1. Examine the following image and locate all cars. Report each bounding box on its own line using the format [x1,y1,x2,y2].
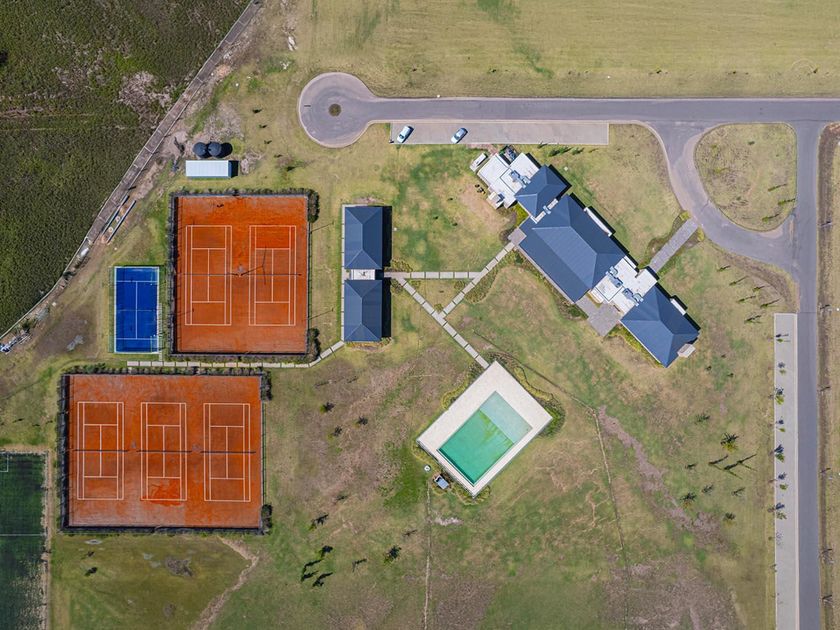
[395,125,412,144]
[450,126,468,145]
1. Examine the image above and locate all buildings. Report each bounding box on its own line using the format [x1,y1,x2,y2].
[345,207,382,341]
[186,160,231,178]
[477,153,700,367]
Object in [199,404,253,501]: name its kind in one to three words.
tennis court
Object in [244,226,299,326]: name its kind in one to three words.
tennis court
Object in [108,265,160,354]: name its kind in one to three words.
sports court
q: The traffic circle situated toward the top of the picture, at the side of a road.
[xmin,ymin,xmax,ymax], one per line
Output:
[299,71,377,148]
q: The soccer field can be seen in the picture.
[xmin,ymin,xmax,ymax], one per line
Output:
[0,452,47,630]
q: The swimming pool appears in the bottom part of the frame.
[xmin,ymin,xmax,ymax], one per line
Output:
[417,362,552,494]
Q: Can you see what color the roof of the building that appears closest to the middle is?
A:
blue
